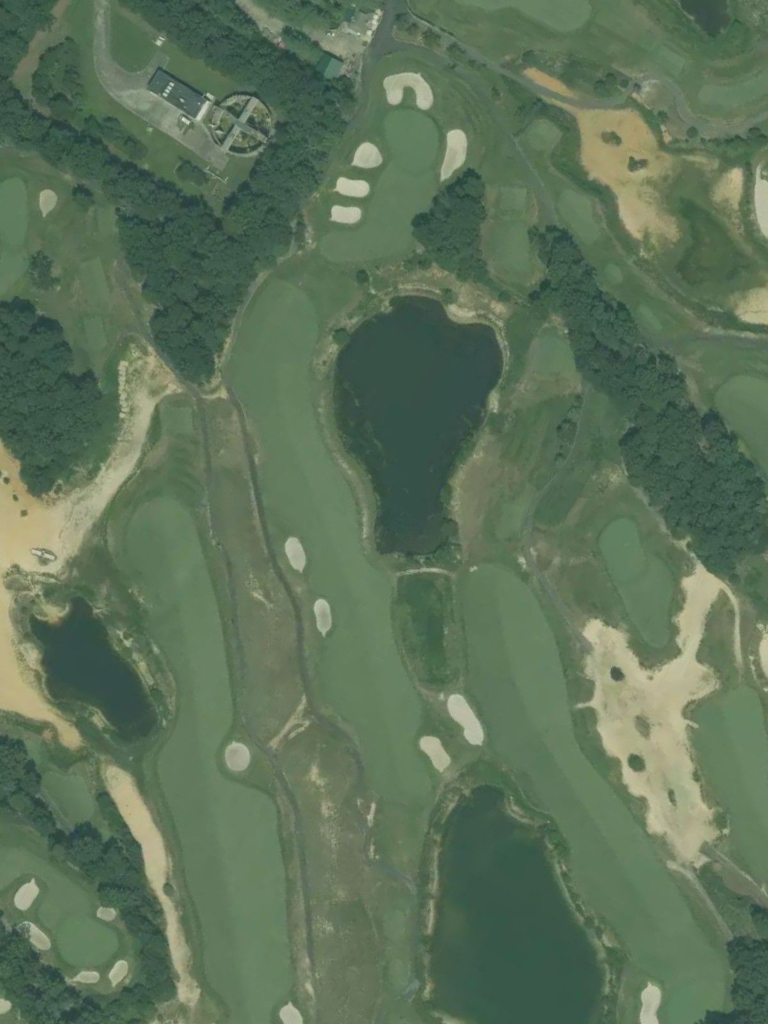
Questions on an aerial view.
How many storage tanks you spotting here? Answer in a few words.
1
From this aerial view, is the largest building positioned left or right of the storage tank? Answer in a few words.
to the left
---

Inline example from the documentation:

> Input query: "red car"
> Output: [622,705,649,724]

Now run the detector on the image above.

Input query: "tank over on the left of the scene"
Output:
[212,94,276,155]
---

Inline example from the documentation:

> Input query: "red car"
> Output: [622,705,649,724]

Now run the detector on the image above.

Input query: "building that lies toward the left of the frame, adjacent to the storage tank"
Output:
[148,70,212,124]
